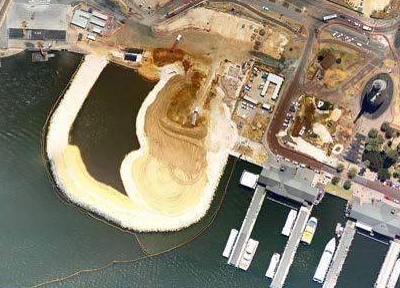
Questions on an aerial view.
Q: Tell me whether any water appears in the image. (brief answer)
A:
Yes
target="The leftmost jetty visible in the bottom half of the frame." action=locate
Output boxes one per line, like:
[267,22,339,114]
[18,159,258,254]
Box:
[229,186,265,266]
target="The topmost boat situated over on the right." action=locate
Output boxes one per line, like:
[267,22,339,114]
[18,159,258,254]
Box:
[238,170,259,188]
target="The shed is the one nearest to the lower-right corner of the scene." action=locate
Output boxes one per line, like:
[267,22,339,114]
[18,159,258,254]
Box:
[348,196,400,240]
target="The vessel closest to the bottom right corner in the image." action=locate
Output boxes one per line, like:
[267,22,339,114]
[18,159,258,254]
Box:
[387,260,400,288]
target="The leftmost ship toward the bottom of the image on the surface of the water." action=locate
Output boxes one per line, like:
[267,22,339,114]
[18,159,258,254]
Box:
[223,230,237,256]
